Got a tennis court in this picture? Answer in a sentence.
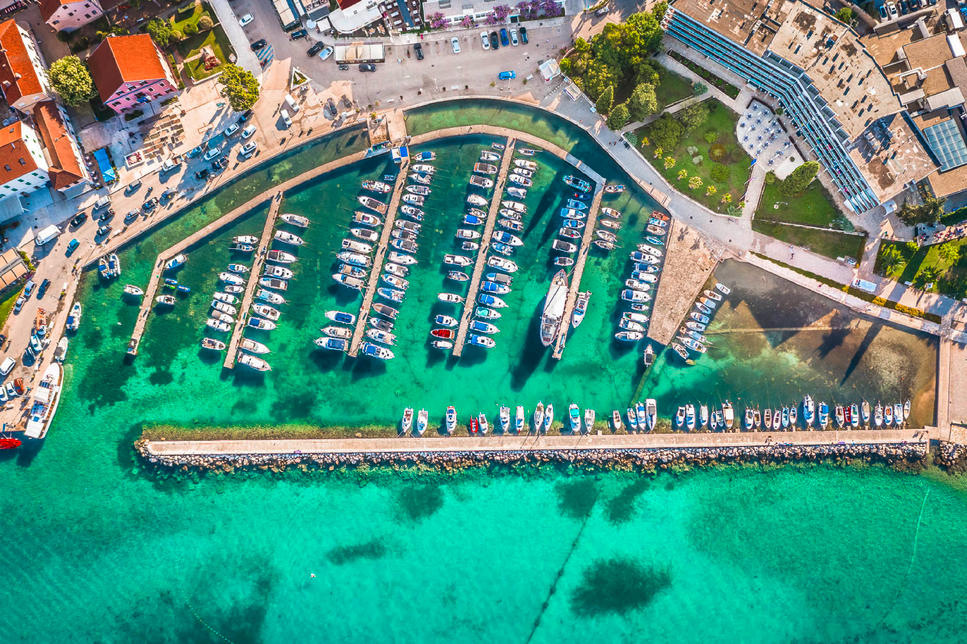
No, there is no tennis court in the image.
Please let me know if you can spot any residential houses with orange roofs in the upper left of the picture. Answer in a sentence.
Yes, you'll find a residential house with an orange roof in the upper left of the picture.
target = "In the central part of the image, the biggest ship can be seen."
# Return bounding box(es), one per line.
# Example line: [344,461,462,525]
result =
[537,263,568,347]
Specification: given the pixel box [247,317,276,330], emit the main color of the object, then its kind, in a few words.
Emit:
white boat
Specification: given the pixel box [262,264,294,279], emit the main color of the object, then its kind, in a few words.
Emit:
white boat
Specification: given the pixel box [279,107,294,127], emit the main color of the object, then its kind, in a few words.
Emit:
white vehicle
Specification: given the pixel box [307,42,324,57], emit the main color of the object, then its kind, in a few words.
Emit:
black car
